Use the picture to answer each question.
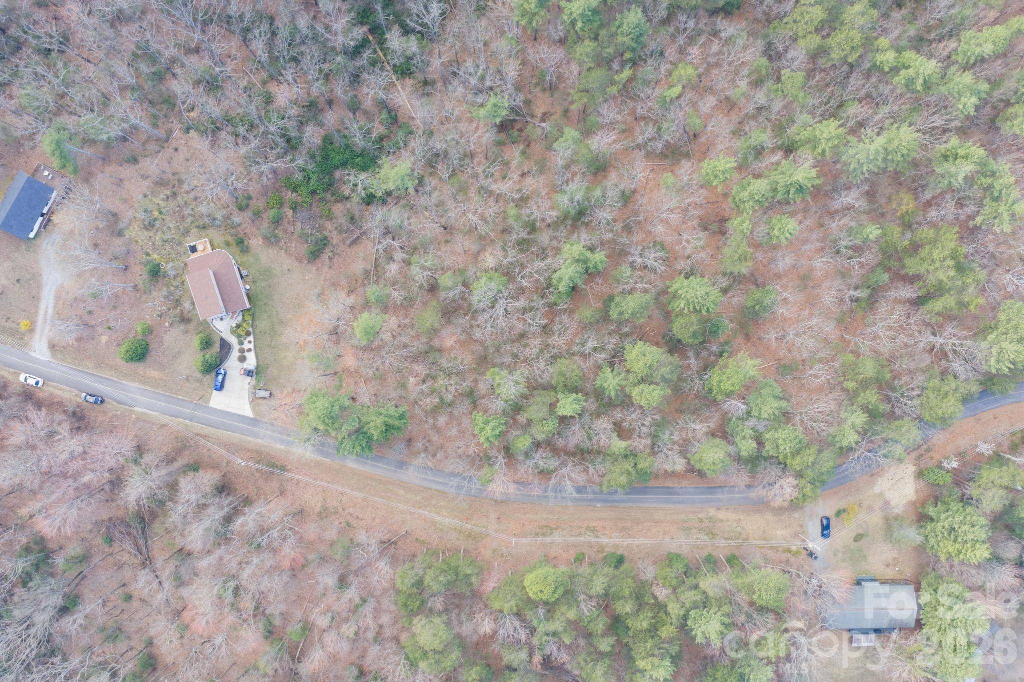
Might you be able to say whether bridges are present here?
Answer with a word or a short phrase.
No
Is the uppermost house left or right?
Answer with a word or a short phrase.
left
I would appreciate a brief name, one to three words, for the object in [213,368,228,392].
car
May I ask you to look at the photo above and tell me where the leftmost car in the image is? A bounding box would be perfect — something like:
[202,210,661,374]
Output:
[19,373,46,388]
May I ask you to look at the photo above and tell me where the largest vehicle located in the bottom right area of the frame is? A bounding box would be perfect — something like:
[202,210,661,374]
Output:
[819,515,832,539]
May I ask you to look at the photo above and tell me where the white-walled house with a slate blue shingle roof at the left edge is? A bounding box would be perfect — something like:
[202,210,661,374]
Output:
[0,169,58,239]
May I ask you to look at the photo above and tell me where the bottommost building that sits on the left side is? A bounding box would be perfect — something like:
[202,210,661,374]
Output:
[186,249,251,321]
